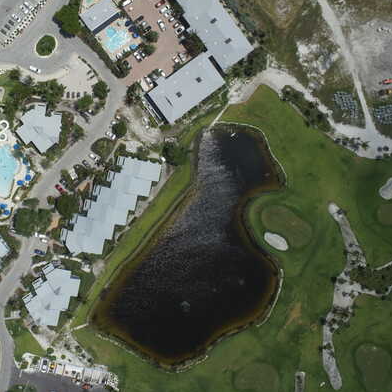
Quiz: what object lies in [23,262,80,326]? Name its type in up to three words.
house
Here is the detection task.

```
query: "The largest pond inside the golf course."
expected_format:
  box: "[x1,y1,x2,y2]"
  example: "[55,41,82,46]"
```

[90,125,285,367]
